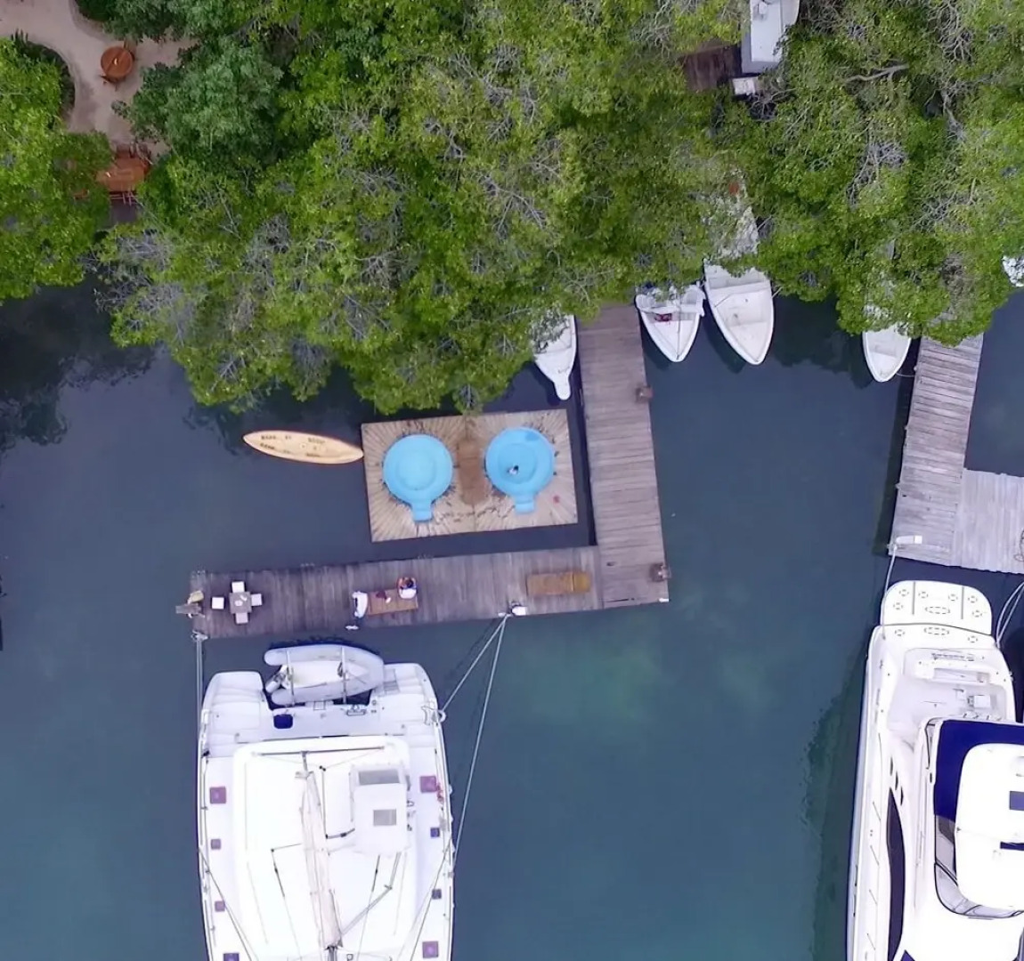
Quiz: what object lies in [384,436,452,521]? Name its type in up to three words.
swimming pool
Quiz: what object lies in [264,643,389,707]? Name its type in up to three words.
boat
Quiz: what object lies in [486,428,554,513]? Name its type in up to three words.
swimming pool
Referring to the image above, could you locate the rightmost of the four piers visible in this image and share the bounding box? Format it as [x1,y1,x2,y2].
[953,469,1024,579]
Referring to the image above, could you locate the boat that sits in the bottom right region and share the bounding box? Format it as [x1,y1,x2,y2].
[849,580,1024,961]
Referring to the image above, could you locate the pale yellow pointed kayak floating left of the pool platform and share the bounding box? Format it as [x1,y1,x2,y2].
[243,428,363,462]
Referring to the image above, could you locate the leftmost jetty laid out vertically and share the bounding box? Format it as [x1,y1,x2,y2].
[566,107,668,608]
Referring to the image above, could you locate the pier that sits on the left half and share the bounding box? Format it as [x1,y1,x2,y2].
[191,546,603,638]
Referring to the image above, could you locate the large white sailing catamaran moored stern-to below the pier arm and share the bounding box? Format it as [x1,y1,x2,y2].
[198,646,455,961]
